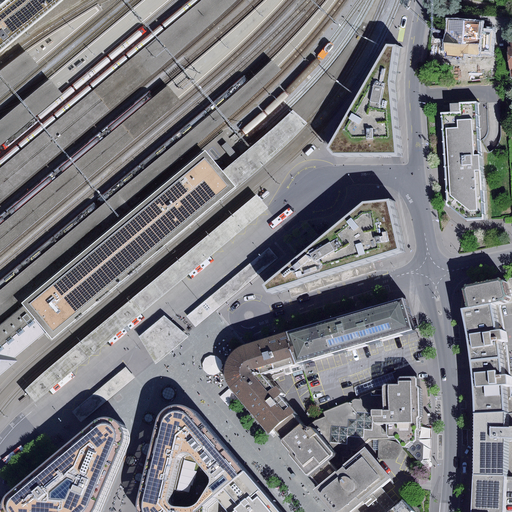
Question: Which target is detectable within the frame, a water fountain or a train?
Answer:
train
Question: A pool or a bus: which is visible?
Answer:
bus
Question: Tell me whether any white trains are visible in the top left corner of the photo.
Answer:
Yes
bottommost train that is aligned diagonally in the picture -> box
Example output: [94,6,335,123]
[0,202,98,288]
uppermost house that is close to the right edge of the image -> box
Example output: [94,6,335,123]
[438,15,495,60]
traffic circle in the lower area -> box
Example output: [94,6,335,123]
[226,295,267,332]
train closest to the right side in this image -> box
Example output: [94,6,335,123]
[286,60,322,96]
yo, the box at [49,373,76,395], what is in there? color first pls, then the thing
white bus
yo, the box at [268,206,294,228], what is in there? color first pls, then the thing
white bus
